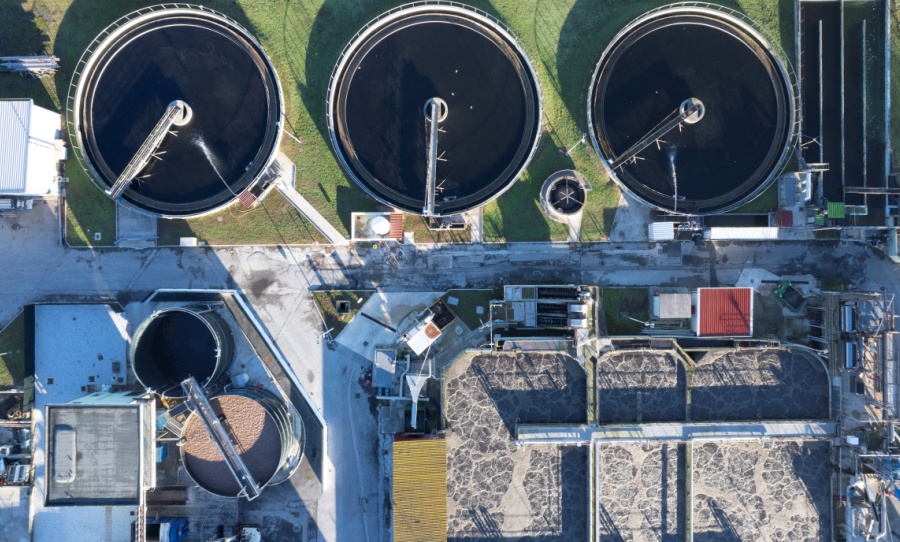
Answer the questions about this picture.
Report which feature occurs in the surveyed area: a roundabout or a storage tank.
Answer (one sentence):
Of the two, only a storage tank appears.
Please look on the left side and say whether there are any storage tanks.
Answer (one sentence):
Yes, there is a storage tank on the left side.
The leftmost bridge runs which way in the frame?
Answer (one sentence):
In this picture, the leftmost bridge lies at an angle.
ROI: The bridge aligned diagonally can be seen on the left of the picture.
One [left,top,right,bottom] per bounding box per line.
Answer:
[103,102,187,200]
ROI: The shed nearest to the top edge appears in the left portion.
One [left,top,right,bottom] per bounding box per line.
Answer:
[0,97,65,200]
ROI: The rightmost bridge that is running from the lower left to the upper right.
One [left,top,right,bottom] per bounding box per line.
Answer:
[604,101,704,172]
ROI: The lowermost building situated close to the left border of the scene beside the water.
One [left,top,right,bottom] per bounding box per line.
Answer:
[44,393,171,507]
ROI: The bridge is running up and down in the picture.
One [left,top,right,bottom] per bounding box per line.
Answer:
[423,101,449,218]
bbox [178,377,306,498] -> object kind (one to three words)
storage tank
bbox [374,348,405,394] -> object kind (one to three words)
building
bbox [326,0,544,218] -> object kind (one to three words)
storage tank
